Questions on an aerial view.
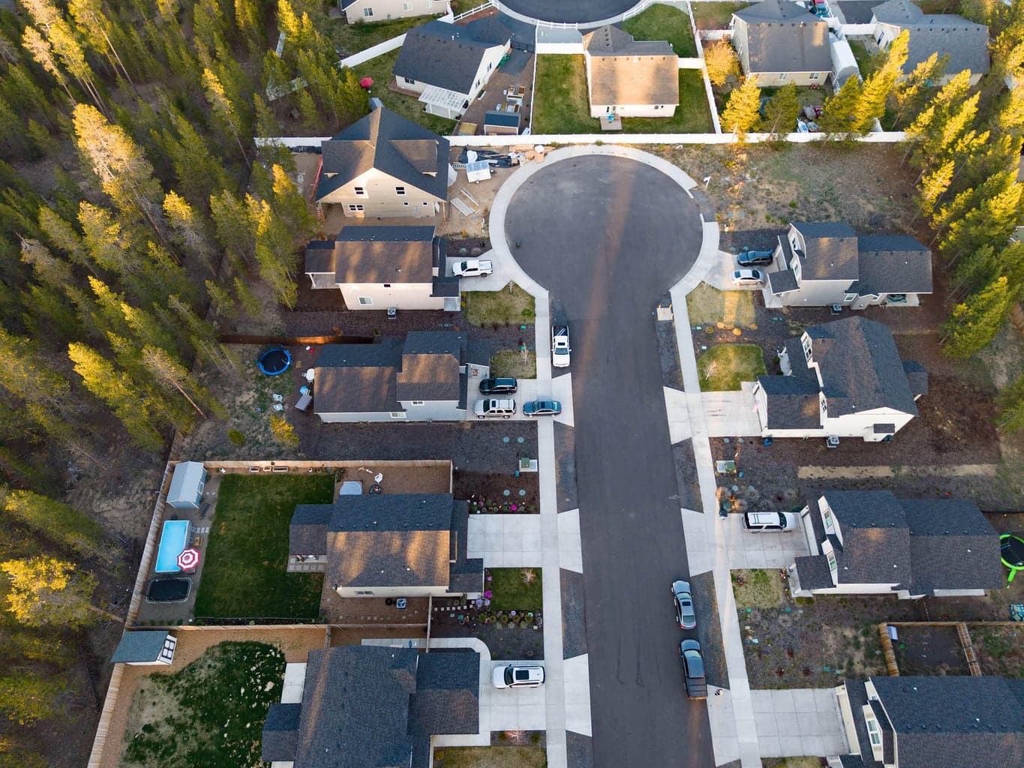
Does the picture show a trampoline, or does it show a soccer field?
trampoline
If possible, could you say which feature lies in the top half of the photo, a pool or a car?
car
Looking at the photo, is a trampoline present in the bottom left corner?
Yes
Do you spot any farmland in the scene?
No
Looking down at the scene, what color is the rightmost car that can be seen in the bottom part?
white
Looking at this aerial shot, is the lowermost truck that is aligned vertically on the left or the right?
right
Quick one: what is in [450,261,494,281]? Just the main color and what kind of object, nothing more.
white vehicle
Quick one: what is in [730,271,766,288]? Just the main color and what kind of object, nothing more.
white car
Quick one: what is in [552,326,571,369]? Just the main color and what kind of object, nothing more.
white vehicle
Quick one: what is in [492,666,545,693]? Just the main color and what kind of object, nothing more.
white car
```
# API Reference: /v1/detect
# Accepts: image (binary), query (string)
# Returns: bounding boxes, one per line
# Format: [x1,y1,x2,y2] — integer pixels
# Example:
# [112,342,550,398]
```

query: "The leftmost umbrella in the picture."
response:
[176,547,203,572]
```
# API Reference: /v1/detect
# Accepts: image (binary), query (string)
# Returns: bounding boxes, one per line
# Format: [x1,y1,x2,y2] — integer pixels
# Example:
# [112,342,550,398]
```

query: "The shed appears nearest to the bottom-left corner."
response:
[111,629,177,664]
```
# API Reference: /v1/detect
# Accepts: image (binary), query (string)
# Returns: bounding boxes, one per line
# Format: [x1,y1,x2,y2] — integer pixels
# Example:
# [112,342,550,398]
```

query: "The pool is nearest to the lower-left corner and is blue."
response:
[152,515,202,577]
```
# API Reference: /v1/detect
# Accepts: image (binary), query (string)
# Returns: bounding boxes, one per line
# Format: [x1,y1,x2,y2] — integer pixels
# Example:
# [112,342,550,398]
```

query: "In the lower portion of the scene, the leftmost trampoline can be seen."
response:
[144,579,195,605]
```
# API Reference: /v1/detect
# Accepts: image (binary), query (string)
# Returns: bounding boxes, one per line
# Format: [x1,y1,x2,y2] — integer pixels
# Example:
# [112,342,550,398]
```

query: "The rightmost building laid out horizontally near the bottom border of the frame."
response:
[825,676,1024,768]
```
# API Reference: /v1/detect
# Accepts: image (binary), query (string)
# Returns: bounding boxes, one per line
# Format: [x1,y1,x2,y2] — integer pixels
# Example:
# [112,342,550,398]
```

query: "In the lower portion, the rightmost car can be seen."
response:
[743,511,797,537]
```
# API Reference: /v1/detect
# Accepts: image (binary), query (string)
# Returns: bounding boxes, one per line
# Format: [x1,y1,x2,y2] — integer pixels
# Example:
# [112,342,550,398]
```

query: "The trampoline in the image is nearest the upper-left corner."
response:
[251,340,295,382]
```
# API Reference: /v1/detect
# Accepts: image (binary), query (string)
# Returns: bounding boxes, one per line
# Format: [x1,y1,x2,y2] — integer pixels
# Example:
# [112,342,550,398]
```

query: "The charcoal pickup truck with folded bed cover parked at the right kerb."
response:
[681,639,713,705]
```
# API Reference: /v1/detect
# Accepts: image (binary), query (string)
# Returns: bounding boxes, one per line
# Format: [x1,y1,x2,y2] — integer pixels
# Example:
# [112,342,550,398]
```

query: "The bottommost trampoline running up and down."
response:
[999,529,1024,586]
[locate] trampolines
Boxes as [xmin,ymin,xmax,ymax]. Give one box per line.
[251,340,295,382]
[144,579,195,605]
[999,529,1024,586]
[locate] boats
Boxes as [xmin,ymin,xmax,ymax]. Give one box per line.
[795,115,812,133]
